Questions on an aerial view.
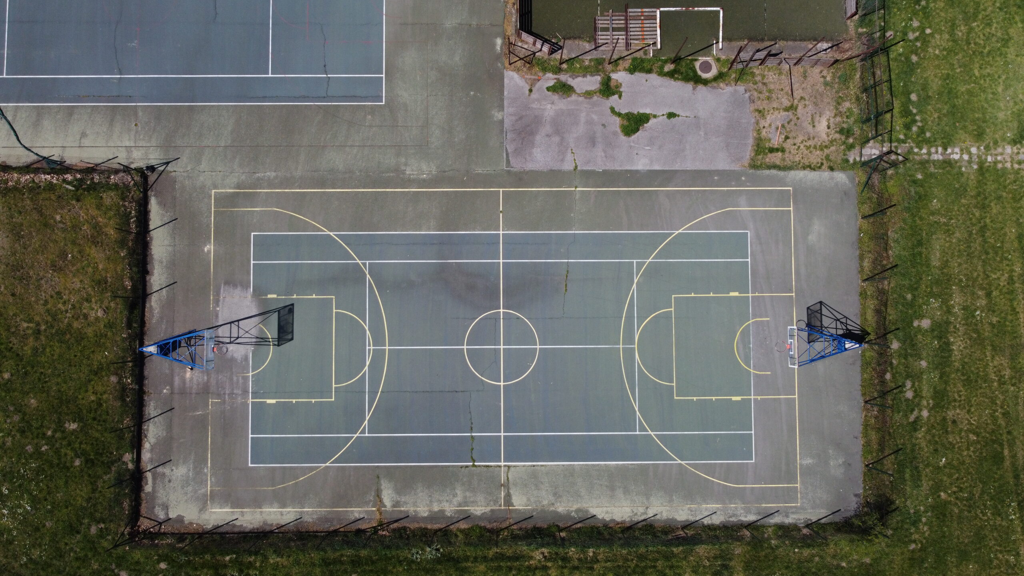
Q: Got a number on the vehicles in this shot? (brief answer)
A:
0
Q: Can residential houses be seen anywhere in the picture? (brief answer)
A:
No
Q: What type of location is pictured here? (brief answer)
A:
sports ground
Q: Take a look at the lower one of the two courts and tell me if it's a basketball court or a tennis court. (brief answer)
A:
basketball court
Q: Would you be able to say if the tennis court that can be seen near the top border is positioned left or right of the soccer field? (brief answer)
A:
to the left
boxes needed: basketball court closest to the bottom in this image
[141,164,863,533]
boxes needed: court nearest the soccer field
[0,0,504,179]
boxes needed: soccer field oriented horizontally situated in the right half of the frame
[519,0,850,59]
